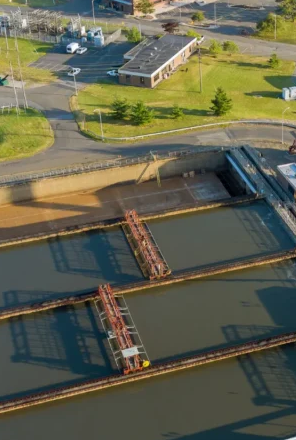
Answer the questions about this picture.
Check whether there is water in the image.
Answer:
Yes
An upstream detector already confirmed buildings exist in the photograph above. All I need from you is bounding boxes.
[276,163,296,211]
[76,0,140,15]
[110,32,200,87]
